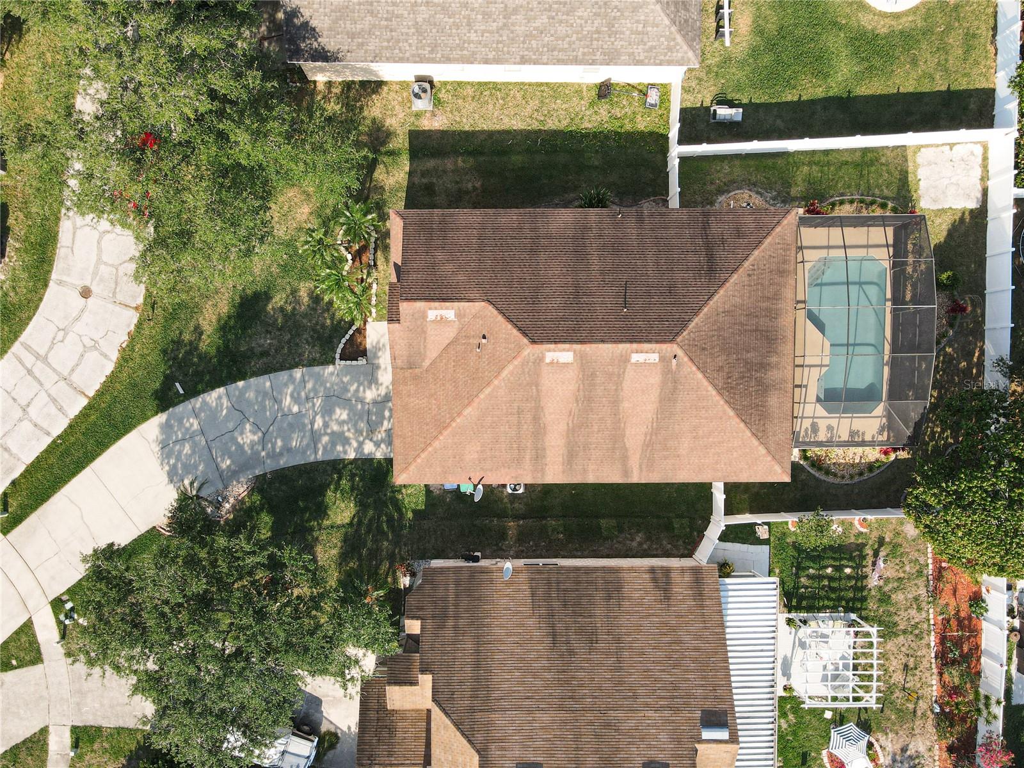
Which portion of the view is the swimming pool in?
right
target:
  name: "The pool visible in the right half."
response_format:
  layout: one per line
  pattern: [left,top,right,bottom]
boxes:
[806,254,889,416]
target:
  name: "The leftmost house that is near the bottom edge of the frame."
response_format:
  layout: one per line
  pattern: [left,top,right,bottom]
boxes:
[357,559,740,768]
